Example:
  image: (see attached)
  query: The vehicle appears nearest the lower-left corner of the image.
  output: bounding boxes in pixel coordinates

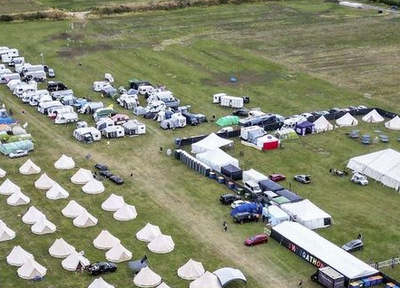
[87,259,114,273]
